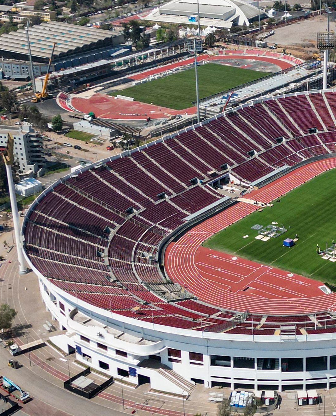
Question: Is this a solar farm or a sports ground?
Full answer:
The picture captures a sports ground.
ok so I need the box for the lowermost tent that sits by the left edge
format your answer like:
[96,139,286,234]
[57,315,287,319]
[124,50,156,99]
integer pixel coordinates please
[14,171,62,194]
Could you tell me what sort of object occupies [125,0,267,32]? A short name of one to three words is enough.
stadium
